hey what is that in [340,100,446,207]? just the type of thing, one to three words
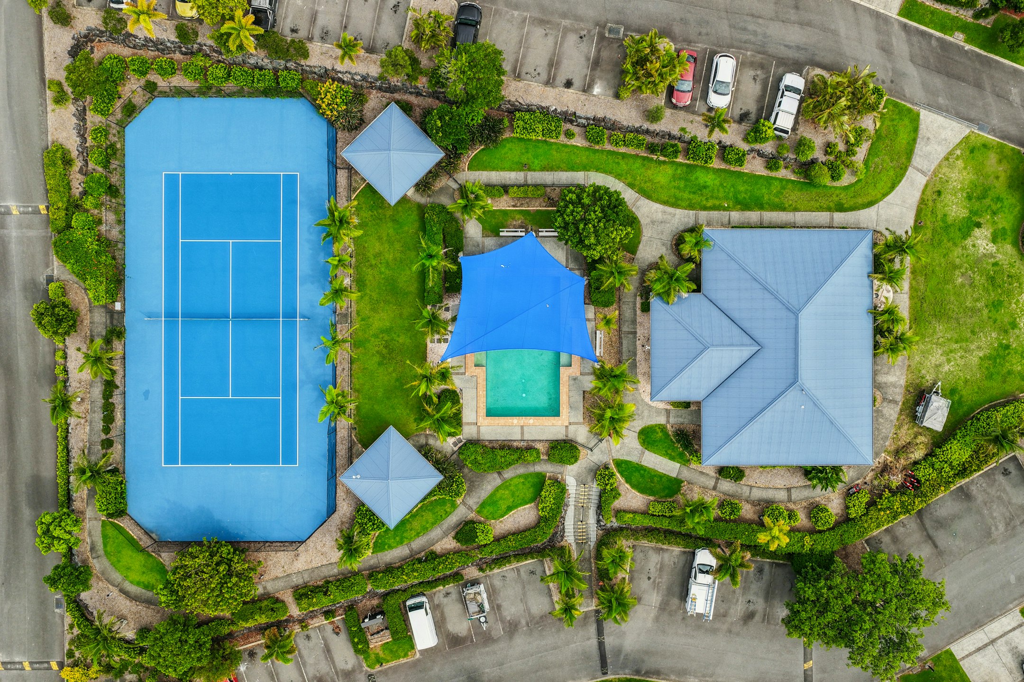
gazebo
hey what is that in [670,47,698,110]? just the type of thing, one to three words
car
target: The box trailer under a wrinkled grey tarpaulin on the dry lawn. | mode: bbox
[918,382,952,432]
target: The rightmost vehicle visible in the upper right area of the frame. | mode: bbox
[768,69,806,143]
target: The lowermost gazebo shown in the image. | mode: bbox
[339,424,445,530]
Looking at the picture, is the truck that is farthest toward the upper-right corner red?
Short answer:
No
